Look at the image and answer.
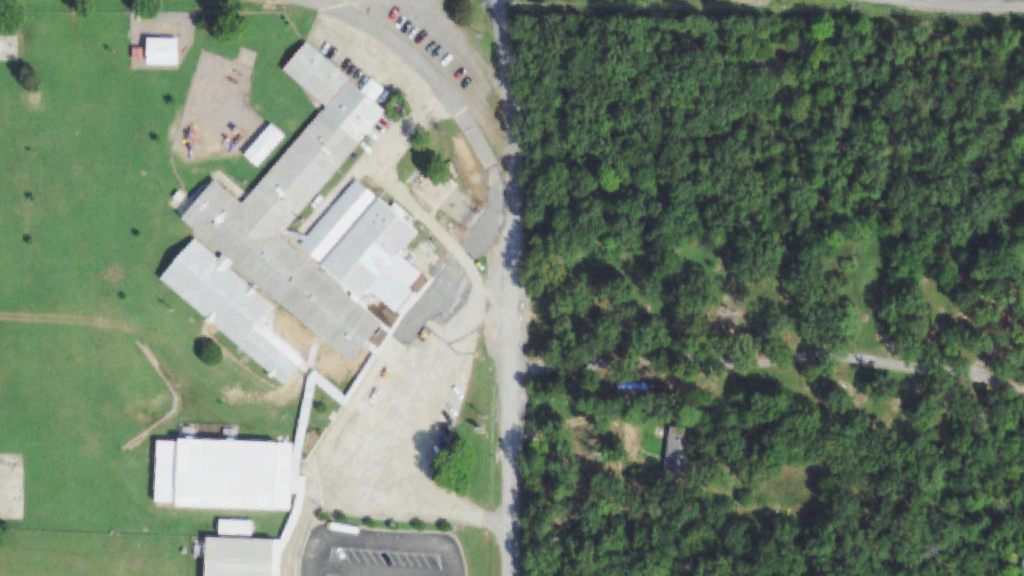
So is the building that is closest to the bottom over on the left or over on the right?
left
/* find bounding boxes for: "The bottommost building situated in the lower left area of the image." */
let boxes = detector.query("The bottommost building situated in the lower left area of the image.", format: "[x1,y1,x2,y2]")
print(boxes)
[204,537,272,576]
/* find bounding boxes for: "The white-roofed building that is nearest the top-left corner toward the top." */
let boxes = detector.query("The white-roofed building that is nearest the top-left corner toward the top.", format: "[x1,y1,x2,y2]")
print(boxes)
[145,37,178,66]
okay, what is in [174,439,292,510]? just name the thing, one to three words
building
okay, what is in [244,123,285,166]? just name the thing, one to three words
shed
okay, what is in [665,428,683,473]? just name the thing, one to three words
house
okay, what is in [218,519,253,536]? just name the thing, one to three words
building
